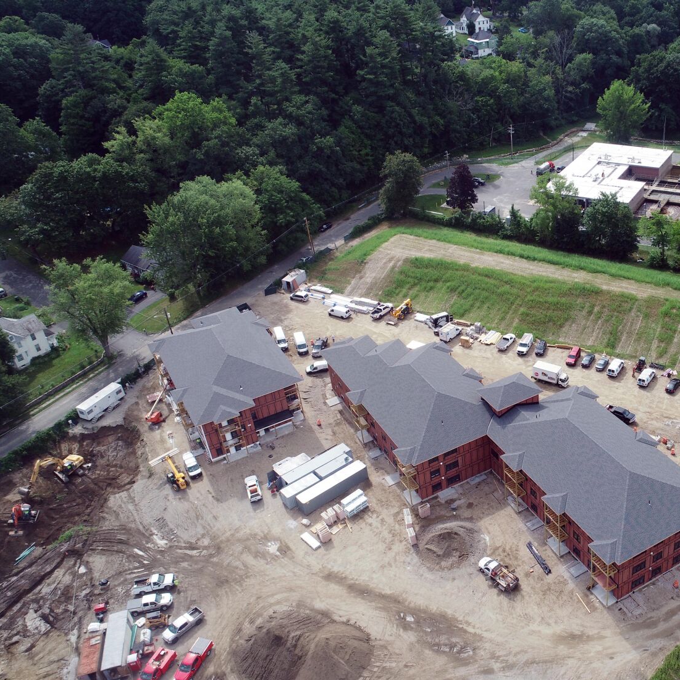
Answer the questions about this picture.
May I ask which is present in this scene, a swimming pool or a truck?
truck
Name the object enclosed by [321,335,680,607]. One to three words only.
building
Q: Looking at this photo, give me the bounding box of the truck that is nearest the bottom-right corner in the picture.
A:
[480,559,523,592]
